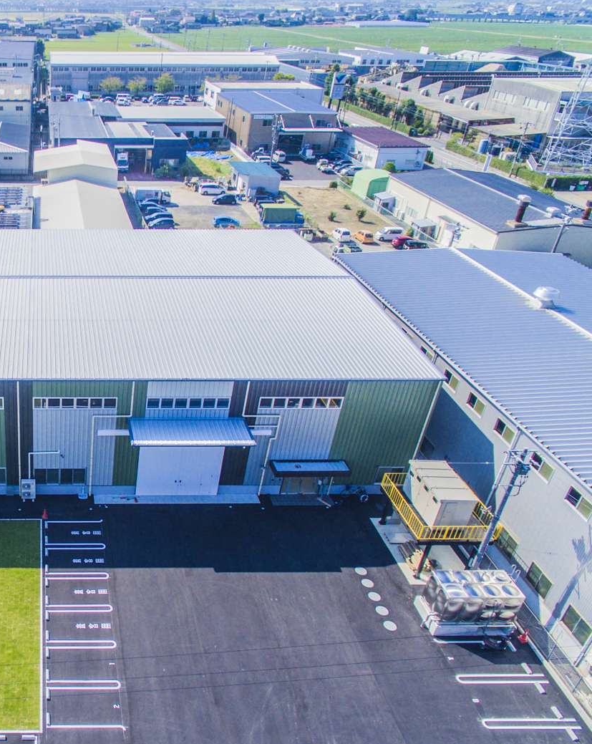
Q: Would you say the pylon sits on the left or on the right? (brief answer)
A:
right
